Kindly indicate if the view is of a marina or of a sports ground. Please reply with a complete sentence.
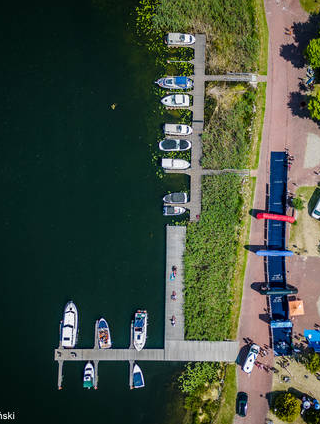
This image shows a marina.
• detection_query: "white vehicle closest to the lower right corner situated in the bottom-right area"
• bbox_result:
[241,342,259,375]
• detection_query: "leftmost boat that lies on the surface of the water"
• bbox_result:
[59,301,80,351]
